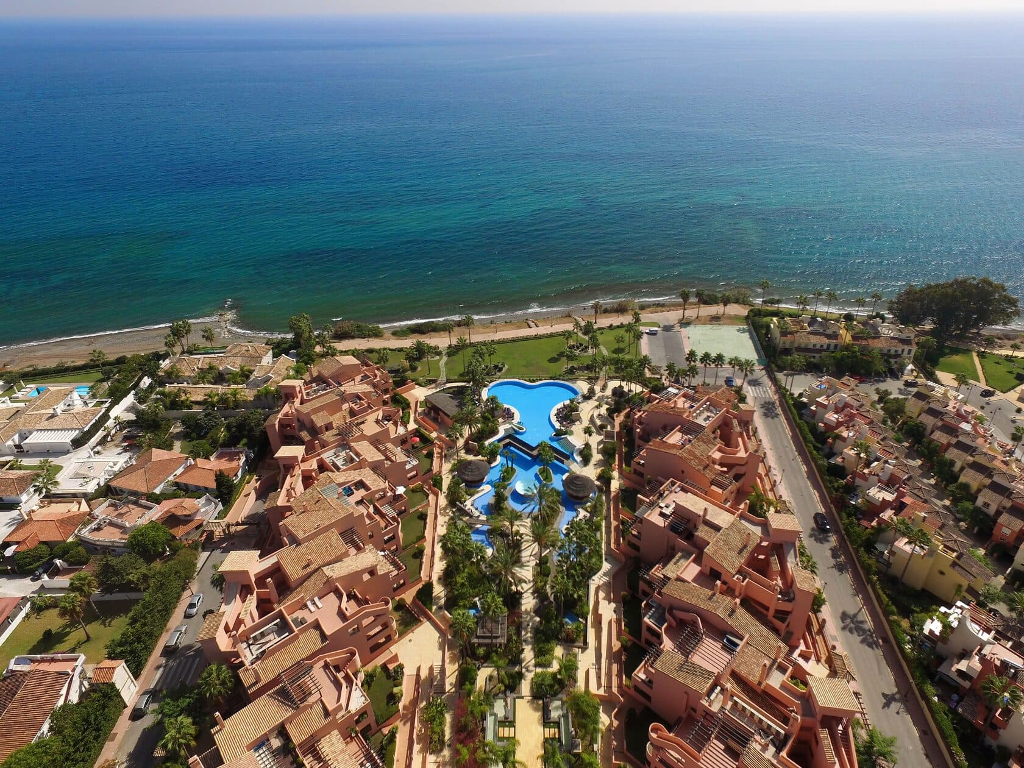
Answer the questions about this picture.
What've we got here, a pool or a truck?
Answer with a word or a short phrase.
pool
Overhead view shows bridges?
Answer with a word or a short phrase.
Yes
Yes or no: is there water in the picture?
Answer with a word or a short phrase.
Yes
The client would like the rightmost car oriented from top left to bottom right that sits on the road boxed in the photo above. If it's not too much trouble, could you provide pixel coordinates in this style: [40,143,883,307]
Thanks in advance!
[814,514,831,532]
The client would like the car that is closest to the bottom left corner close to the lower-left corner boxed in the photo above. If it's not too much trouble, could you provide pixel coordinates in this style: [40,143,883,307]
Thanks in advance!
[128,692,154,720]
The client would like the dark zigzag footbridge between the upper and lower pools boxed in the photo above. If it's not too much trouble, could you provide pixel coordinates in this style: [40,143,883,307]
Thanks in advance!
[494,432,584,472]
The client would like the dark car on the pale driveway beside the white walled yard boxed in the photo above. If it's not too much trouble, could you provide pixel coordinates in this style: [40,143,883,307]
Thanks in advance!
[28,559,55,579]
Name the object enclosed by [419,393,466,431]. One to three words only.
building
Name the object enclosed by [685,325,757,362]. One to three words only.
sports court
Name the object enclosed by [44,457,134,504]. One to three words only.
house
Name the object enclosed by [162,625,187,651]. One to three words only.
car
